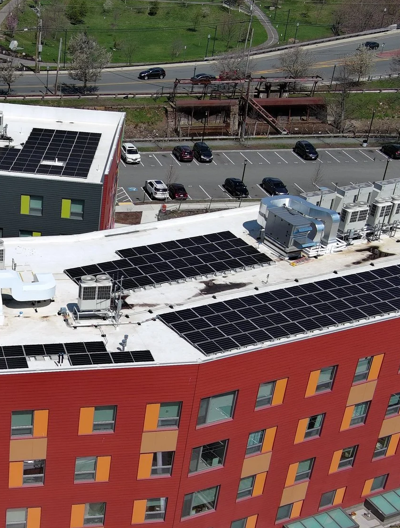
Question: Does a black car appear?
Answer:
Yes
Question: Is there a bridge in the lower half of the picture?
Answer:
No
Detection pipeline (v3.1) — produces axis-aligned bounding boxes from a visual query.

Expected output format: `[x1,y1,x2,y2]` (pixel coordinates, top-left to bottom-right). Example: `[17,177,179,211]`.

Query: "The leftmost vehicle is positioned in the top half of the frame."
[123,141,141,160]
